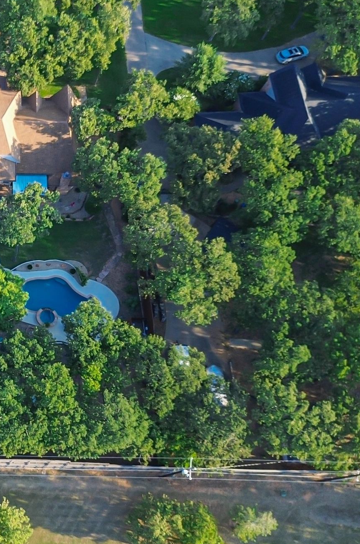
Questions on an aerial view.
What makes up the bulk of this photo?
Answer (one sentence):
The largest share of the image is taken up by trees.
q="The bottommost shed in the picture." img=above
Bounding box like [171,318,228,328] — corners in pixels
[198,217,230,250]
